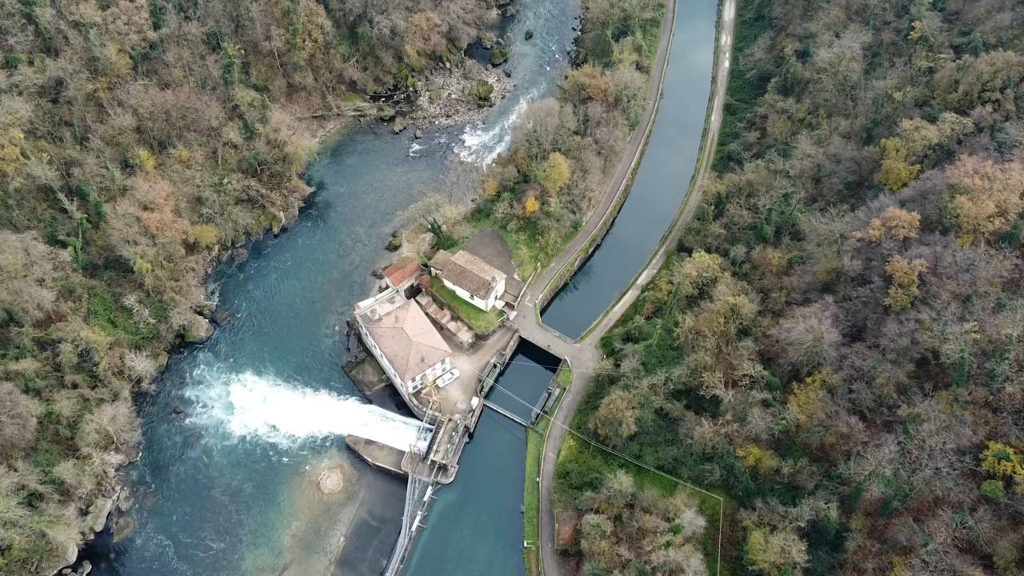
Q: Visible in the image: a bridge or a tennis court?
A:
bridge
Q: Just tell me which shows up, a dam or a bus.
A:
dam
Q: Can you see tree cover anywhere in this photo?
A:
Yes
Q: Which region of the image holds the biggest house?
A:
center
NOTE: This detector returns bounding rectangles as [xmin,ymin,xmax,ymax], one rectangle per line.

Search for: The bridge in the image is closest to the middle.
[518,319,575,359]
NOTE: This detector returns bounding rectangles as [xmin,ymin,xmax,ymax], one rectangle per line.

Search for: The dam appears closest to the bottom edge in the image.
[382,474,441,576]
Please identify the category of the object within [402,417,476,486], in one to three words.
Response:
dam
